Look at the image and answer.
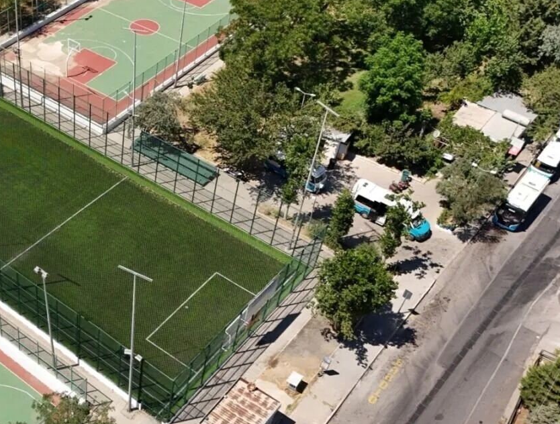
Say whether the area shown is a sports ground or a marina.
sports ground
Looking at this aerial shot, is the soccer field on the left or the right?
left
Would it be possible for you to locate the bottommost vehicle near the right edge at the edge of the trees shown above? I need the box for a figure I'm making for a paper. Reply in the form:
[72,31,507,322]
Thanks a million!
[495,169,550,230]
